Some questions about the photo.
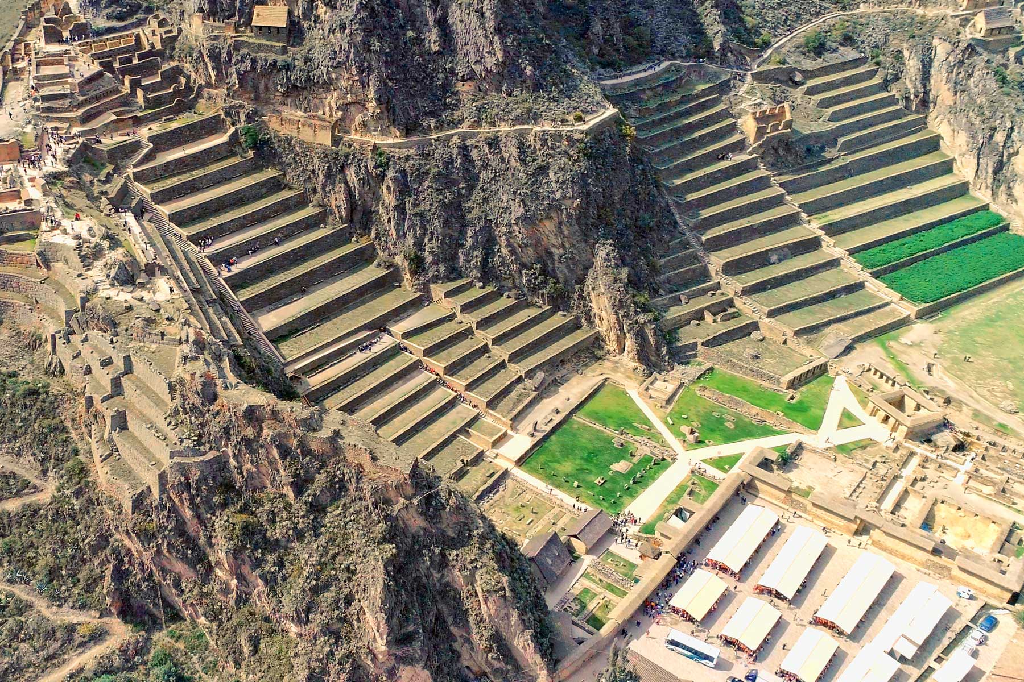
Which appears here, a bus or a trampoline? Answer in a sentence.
This aerial view contains a bus.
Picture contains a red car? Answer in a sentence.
No, no red car can be seen from above.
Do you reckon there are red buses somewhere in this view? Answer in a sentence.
No, the picture doesn't show any red bus.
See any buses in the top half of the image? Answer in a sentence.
No, no bus appears in the top half of the image.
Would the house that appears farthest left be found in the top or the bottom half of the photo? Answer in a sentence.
You can find the house that appears farthest left in the top half.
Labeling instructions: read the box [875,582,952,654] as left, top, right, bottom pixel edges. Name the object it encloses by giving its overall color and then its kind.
white tent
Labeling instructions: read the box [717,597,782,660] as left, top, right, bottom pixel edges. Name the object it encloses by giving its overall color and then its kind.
white tent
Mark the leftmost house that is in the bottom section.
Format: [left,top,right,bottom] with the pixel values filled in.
[521,532,573,586]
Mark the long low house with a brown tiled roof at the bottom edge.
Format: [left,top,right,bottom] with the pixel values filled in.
[626,649,687,682]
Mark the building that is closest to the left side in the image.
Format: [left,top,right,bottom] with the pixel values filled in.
[252,2,290,53]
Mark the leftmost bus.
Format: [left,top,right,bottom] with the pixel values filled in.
[658,625,725,672]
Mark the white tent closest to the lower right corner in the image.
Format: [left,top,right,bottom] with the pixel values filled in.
[935,644,977,682]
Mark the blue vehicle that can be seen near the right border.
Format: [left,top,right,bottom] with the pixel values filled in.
[981,611,1001,634]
